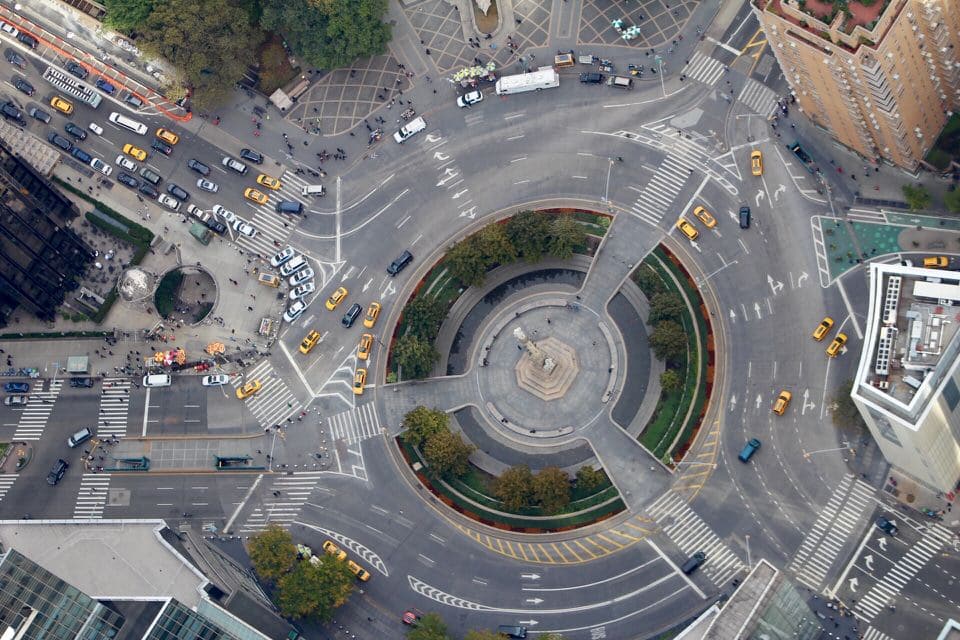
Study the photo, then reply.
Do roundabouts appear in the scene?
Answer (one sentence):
Yes, this view includes a roundabout.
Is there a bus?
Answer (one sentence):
Yes, this view includes a bus.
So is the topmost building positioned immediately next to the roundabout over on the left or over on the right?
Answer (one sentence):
The topmost building positioned immediately next to the roundabout sits on the right side.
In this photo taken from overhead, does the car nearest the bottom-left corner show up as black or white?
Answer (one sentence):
The car nearest the bottom-left corner is black.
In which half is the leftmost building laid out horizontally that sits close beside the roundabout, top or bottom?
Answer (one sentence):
You can find the leftmost building laid out horizontally that sits close beside the roundabout in the bottom half.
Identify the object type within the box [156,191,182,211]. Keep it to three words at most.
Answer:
car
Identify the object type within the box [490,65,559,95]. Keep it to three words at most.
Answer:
bus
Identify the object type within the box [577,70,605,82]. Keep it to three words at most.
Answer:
vehicle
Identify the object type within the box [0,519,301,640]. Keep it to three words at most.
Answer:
building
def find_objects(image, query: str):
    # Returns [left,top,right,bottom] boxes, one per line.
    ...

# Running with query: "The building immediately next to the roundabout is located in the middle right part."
[851,263,960,494]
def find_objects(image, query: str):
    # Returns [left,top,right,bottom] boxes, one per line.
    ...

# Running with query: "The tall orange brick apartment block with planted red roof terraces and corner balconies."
[750,0,960,179]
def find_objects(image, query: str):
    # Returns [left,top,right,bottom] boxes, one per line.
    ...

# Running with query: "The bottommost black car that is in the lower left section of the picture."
[44,456,69,483]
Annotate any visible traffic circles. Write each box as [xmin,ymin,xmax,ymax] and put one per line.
[284,112,822,636]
